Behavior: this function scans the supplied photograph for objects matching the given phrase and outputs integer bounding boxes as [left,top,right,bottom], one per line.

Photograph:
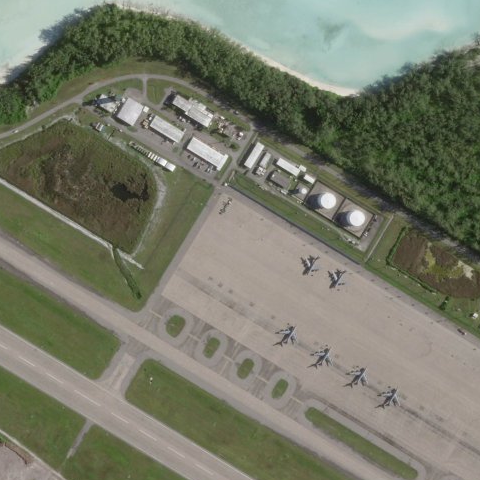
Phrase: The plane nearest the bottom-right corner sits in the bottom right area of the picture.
[378,388,399,410]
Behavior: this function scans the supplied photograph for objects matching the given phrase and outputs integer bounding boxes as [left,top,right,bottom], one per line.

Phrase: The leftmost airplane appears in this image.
[275,326,296,348]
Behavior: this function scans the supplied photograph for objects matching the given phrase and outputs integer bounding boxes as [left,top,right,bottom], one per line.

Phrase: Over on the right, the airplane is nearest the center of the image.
[303,254,324,275]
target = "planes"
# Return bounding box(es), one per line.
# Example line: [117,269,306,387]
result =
[378,388,399,410]
[275,326,296,348]
[330,267,351,288]
[347,368,368,390]
[311,348,331,370]
[303,254,324,275]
